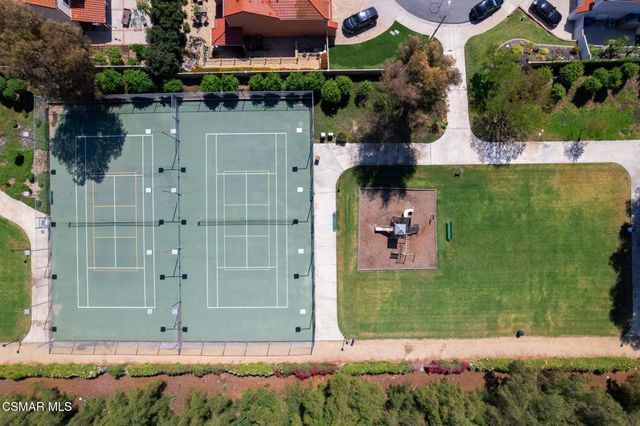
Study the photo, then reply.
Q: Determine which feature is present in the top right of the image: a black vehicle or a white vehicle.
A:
black vehicle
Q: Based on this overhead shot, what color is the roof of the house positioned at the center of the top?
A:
red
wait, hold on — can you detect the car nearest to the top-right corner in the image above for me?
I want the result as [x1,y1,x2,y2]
[528,0,563,28]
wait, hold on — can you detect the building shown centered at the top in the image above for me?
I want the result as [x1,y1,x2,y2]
[211,0,338,52]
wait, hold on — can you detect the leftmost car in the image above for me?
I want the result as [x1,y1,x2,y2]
[342,7,379,34]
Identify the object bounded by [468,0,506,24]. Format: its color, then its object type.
black car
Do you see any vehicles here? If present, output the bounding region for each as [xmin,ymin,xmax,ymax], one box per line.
[342,7,379,34]
[528,0,563,28]
[468,0,506,24]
